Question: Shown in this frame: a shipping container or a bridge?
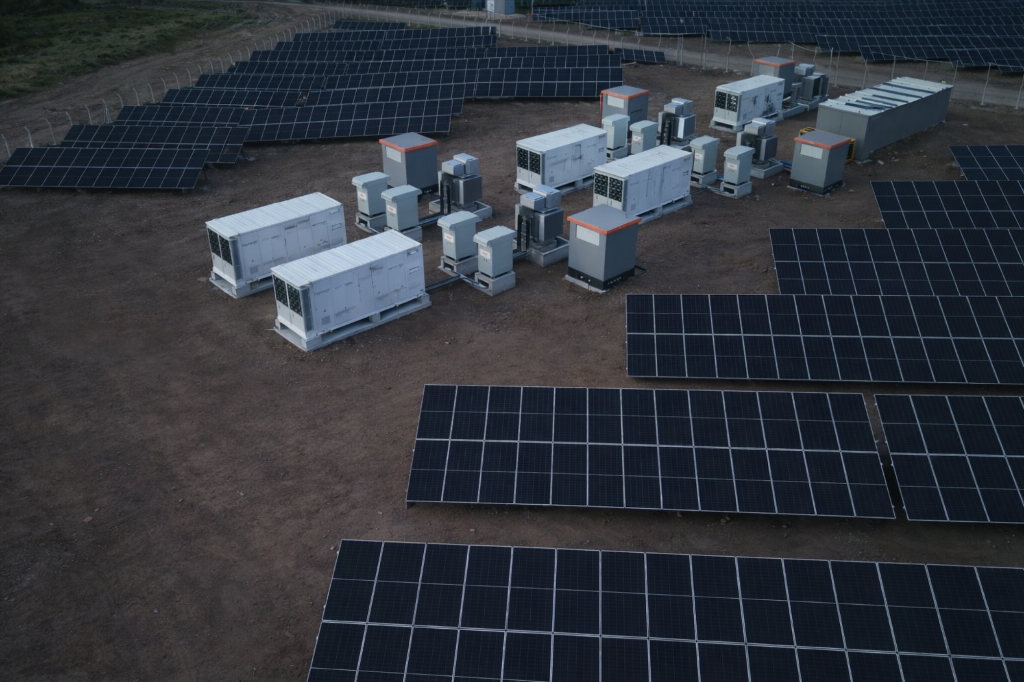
shipping container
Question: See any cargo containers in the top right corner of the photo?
Yes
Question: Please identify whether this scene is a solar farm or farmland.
solar farm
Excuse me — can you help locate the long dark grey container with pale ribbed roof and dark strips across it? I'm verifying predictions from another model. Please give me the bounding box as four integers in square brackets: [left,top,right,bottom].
[814,76,955,161]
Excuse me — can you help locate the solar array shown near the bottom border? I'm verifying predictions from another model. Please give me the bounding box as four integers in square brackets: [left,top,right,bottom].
[308,540,1024,682]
